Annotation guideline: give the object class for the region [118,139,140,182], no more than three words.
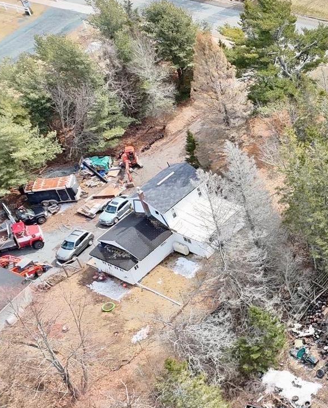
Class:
work vehicle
